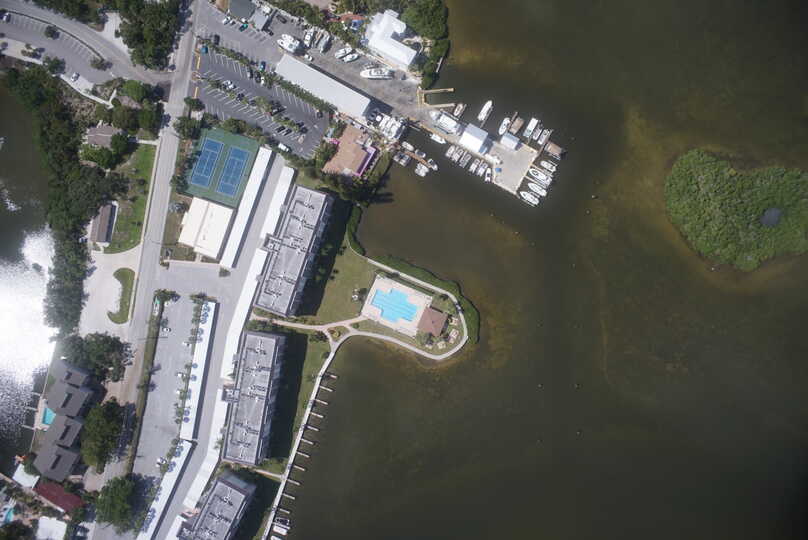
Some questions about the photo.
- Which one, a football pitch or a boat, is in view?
boat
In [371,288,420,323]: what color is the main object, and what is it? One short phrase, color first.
blue swimming pool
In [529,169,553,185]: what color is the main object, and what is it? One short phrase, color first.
white boat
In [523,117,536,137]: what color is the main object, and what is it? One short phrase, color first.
white boat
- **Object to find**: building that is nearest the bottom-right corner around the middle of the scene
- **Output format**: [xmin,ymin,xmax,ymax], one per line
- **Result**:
[418,308,447,336]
